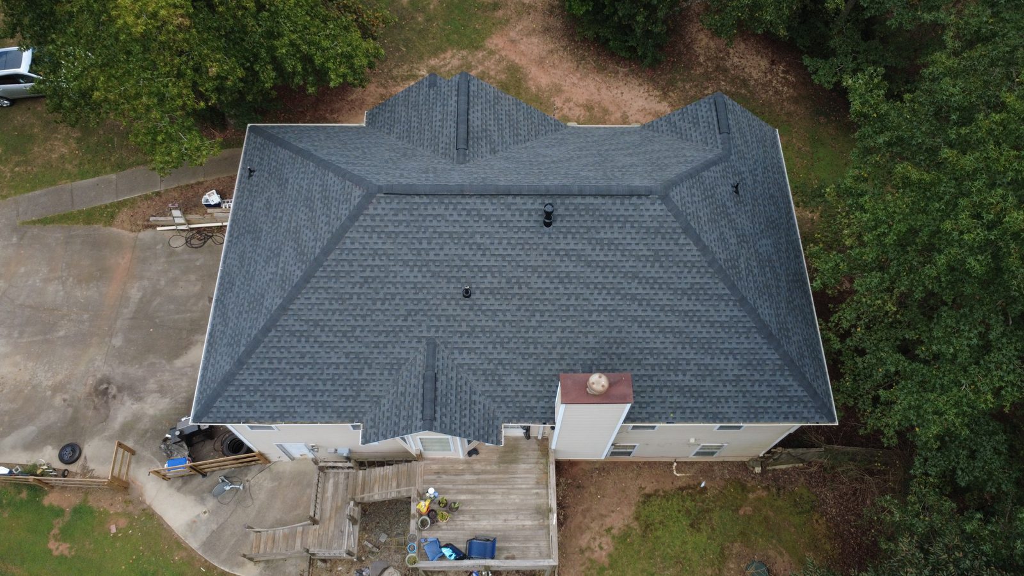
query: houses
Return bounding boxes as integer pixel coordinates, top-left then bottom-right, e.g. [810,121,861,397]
[189,71,839,467]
